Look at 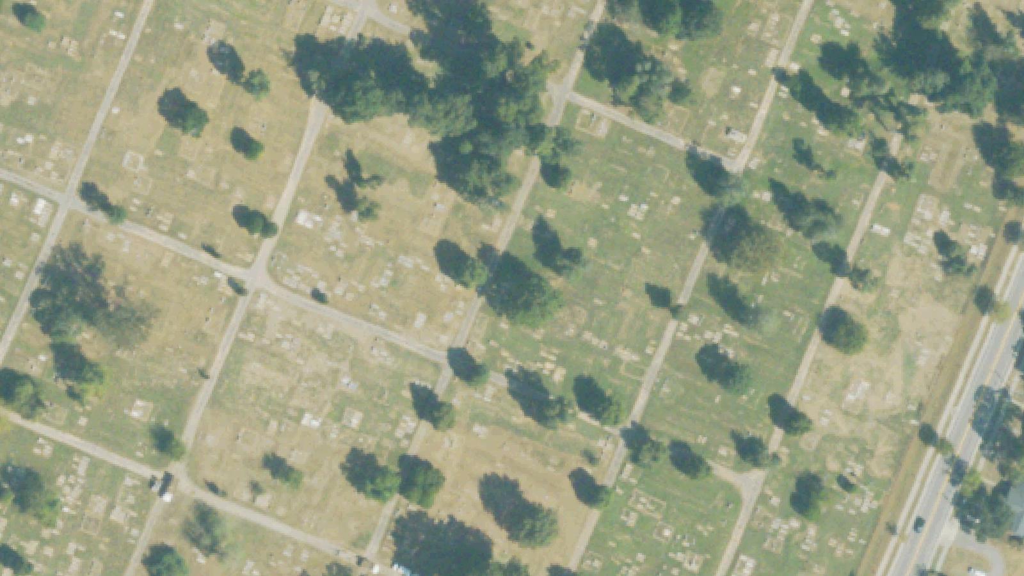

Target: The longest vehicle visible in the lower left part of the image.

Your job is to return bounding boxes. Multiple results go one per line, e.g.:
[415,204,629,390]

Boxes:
[159,472,174,494]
